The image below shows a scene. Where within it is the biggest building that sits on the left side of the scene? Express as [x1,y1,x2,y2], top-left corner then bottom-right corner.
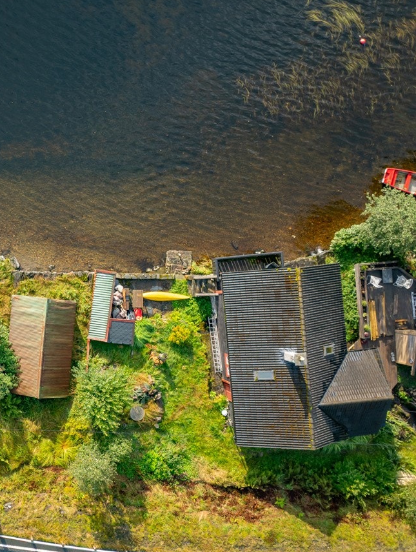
[11,296,76,398]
